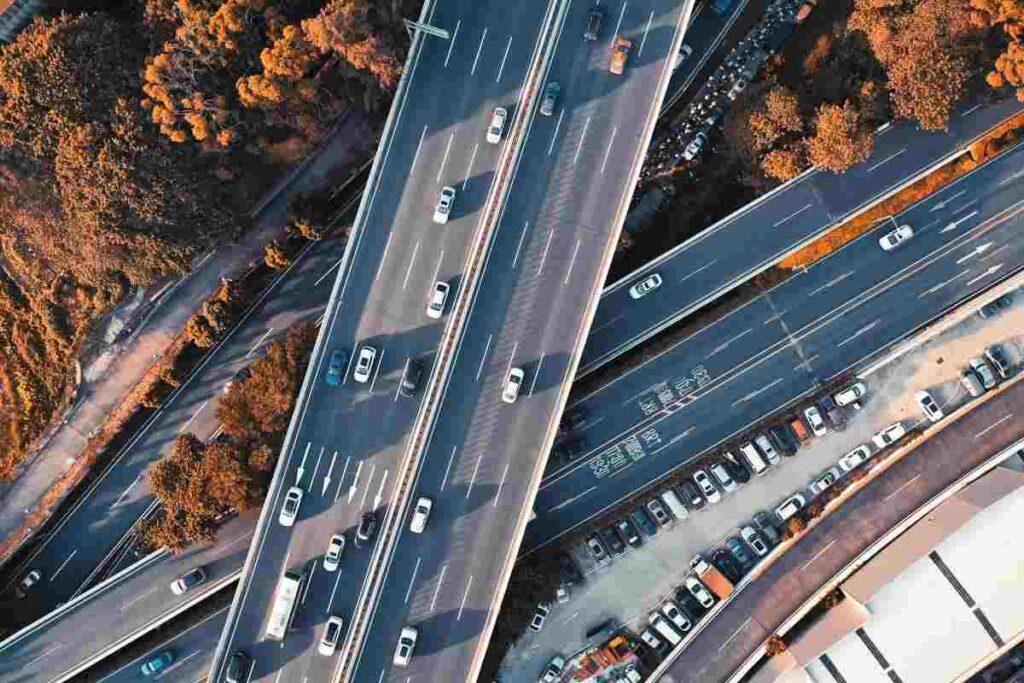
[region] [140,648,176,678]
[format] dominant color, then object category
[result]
blue car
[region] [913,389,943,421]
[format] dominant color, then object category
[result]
white car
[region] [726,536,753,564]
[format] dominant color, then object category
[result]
blue car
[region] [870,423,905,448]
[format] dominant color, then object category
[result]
white car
